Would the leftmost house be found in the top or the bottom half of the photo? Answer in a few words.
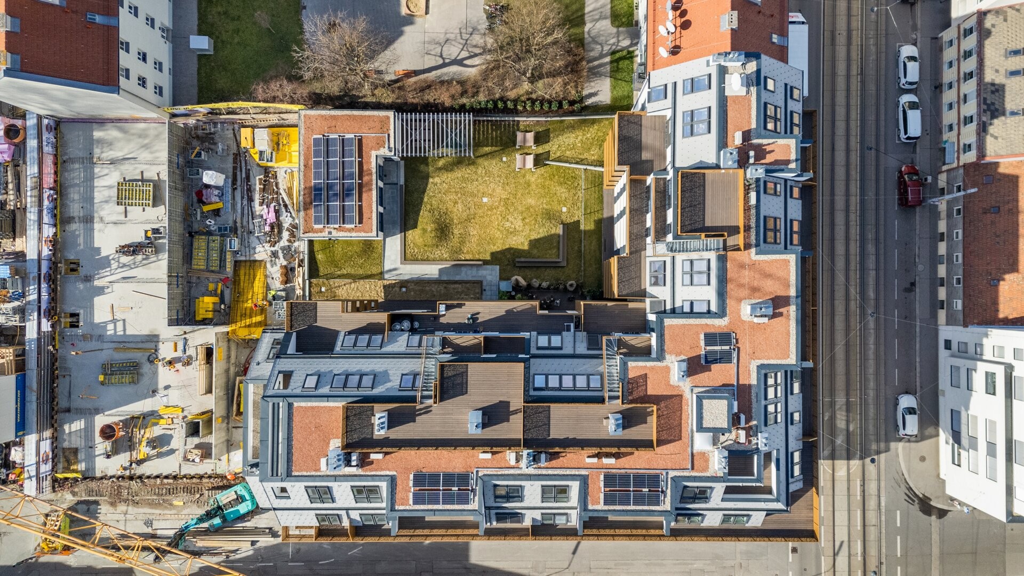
top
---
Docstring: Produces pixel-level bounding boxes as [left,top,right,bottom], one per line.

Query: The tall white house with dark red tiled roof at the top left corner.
[0,0,173,120]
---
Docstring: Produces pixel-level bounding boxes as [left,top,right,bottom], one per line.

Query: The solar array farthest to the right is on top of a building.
[698,332,736,364]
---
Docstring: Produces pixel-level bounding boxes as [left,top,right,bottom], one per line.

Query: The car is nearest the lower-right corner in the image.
[891,393,918,437]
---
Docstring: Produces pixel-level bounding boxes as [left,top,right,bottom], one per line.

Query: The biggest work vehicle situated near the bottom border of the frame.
[159,479,257,564]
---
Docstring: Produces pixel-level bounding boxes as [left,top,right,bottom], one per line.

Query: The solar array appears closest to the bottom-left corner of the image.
[408,472,476,505]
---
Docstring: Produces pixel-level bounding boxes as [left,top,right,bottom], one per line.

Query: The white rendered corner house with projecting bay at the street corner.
[936,327,1024,522]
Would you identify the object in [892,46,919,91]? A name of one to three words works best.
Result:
car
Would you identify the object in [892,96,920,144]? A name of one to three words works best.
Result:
car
